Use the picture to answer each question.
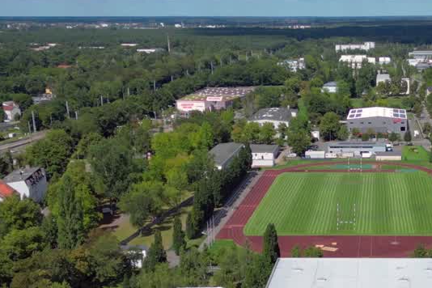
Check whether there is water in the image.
No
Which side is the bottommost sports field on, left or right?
right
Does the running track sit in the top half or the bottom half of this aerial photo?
bottom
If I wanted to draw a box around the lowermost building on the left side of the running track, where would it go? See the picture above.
[117,245,151,267]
